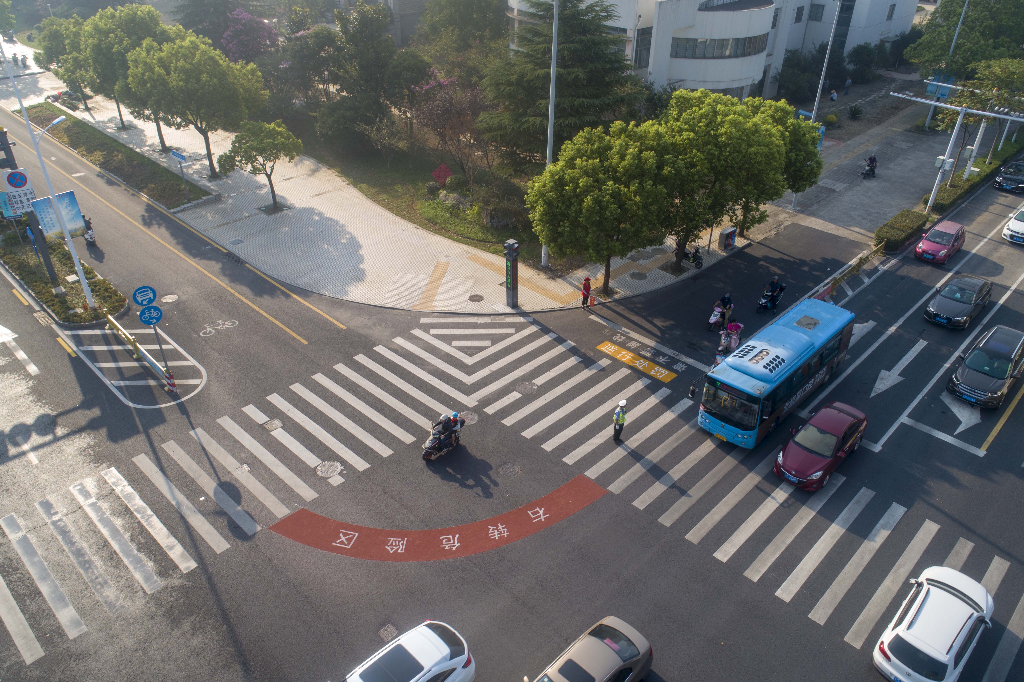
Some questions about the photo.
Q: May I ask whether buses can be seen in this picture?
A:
Yes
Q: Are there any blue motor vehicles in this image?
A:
Yes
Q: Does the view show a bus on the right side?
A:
Yes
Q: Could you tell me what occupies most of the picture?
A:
paved ground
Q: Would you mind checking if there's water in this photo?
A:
No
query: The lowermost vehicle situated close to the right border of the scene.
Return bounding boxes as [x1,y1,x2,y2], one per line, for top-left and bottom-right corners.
[865,565,987,682]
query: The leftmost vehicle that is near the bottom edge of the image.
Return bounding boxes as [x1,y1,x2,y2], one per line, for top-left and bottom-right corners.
[337,620,481,682]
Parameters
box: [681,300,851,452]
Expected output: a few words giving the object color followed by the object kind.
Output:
blue bus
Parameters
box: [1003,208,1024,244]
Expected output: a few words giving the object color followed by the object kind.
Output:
white car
